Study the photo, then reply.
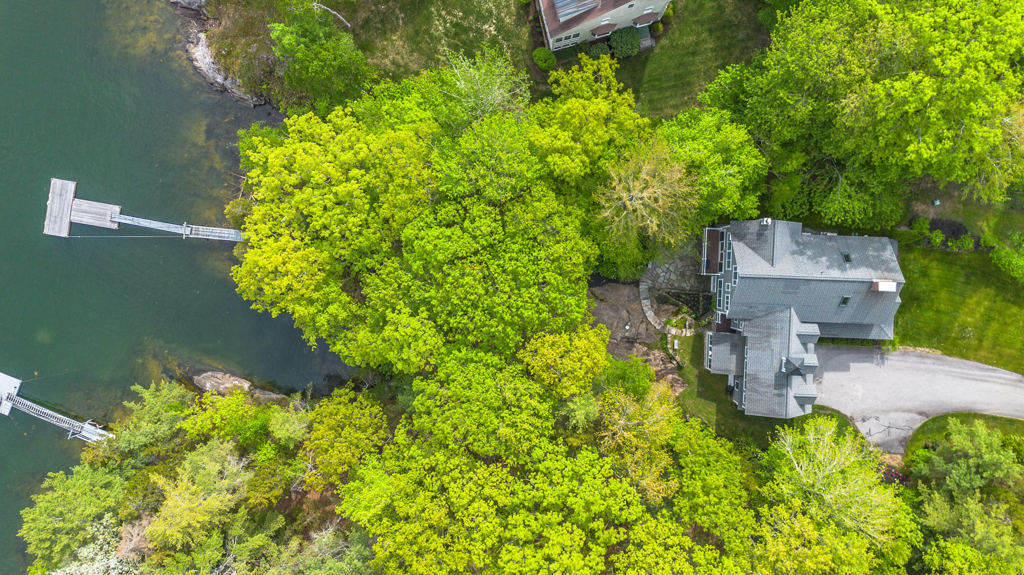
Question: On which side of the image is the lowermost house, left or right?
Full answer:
You can find the lowermost house on the right side of the picture.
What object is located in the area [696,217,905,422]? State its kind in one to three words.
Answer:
house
